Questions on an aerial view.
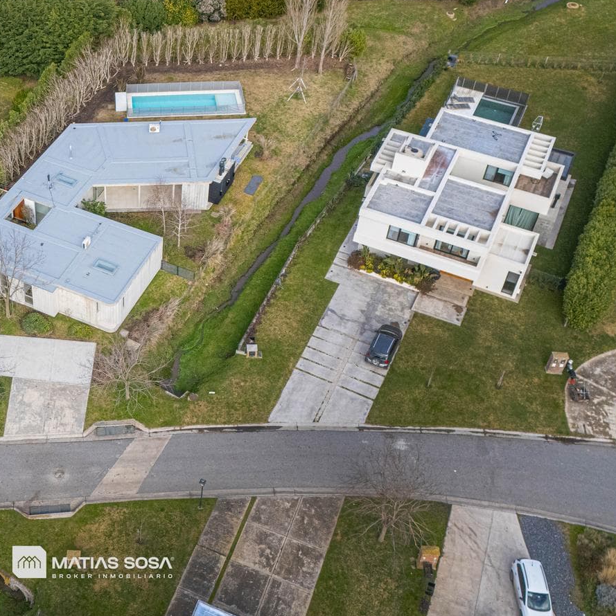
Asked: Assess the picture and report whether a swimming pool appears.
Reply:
Yes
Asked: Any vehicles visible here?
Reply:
Yes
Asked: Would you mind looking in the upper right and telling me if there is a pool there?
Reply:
Yes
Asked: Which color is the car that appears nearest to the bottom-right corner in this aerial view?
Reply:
white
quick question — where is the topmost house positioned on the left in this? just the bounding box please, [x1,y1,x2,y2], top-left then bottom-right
[0,118,259,336]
